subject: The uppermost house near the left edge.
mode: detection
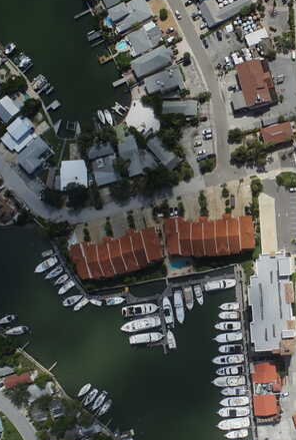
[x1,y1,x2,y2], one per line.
[0,95,21,122]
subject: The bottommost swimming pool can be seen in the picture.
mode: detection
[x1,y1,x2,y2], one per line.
[168,259,193,271]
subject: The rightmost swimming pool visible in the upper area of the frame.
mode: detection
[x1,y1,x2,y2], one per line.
[114,38,129,52]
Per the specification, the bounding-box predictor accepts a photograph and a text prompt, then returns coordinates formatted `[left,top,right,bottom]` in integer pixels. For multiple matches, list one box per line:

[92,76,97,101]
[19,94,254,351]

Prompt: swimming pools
[114,38,129,52]
[168,259,193,271]
[103,13,114,28]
